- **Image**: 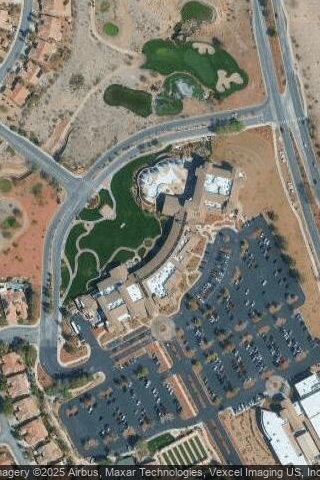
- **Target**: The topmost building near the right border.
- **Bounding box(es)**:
[294,376,320,401]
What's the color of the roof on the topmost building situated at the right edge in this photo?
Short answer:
white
